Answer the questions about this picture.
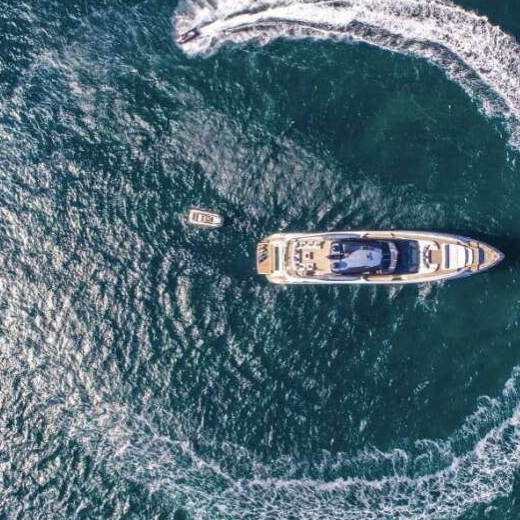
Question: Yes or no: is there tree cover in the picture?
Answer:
No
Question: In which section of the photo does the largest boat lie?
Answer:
right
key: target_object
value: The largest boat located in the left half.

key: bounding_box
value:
[189,210,222,226]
